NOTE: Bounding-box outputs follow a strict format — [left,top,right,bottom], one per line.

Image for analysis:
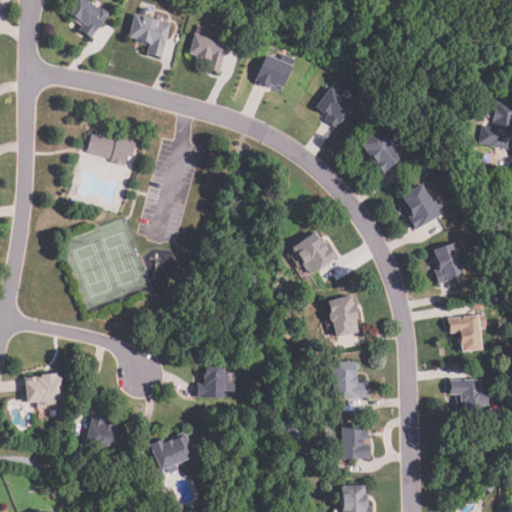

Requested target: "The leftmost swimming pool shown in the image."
[7,398,34,430]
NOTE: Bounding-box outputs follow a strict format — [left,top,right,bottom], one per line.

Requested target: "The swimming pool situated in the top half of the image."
[70,150,134,212]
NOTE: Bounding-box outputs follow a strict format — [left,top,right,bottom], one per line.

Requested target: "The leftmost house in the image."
[25,374,62,410]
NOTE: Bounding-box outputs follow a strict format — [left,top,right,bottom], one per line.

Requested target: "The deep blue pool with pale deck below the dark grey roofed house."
[164,469,196,507]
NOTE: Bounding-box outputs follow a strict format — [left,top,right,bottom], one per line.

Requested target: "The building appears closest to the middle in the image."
[292,231,338,272]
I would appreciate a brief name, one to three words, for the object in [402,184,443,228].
house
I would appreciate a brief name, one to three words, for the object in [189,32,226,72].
house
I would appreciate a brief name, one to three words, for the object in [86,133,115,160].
building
